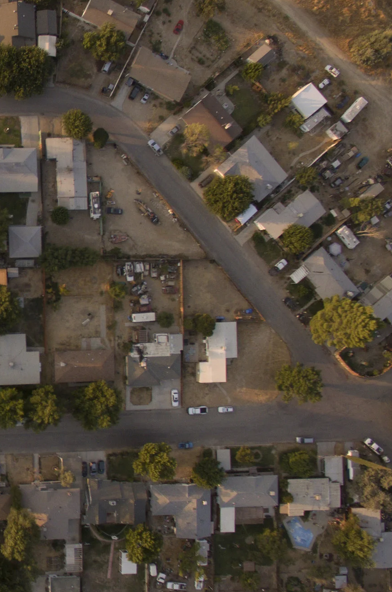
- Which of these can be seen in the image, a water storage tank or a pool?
pool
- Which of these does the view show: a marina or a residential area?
residential area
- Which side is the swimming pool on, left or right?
right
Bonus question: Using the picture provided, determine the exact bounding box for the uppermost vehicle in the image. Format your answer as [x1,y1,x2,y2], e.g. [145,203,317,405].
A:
[172,19,184,36]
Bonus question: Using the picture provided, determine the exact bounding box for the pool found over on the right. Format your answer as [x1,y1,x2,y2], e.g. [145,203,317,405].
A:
[285,516,316,550]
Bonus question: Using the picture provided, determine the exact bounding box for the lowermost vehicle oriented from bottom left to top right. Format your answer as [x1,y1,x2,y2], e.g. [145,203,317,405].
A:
[153,569,168,585]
